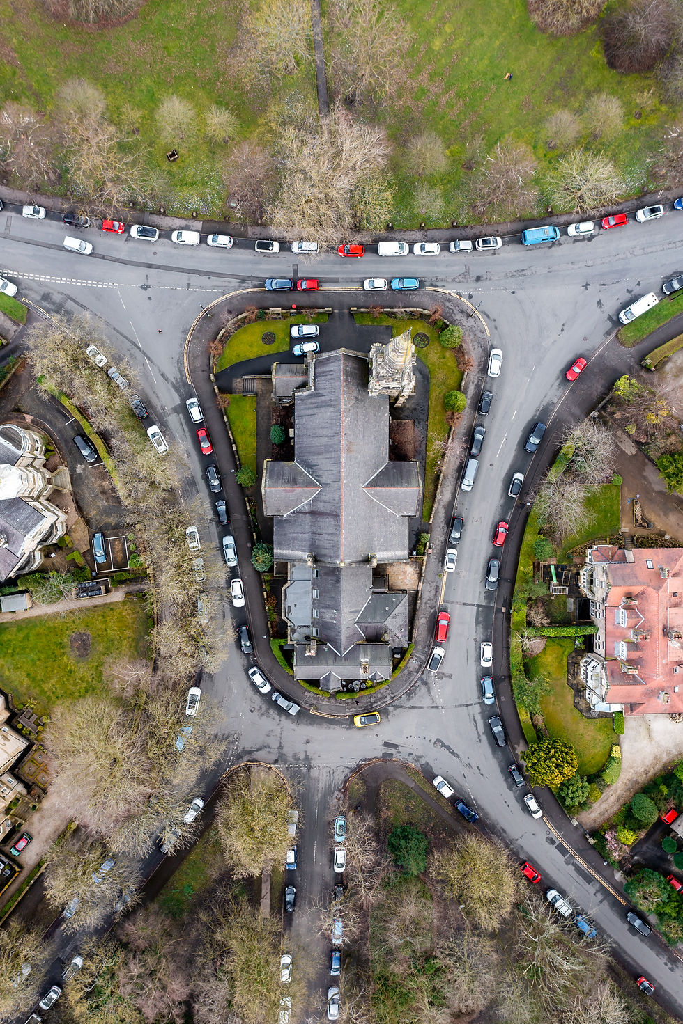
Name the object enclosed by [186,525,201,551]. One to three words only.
car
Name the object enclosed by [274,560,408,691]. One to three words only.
building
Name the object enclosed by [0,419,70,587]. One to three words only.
house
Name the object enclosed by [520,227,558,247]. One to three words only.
vehicle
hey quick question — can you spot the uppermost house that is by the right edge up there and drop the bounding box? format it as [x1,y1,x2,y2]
[574,544,683,715]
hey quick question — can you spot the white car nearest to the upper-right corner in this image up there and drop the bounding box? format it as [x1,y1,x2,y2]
[633,205,664,224]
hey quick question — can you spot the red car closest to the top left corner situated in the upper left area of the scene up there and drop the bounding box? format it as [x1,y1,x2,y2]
[102,221,126,235]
